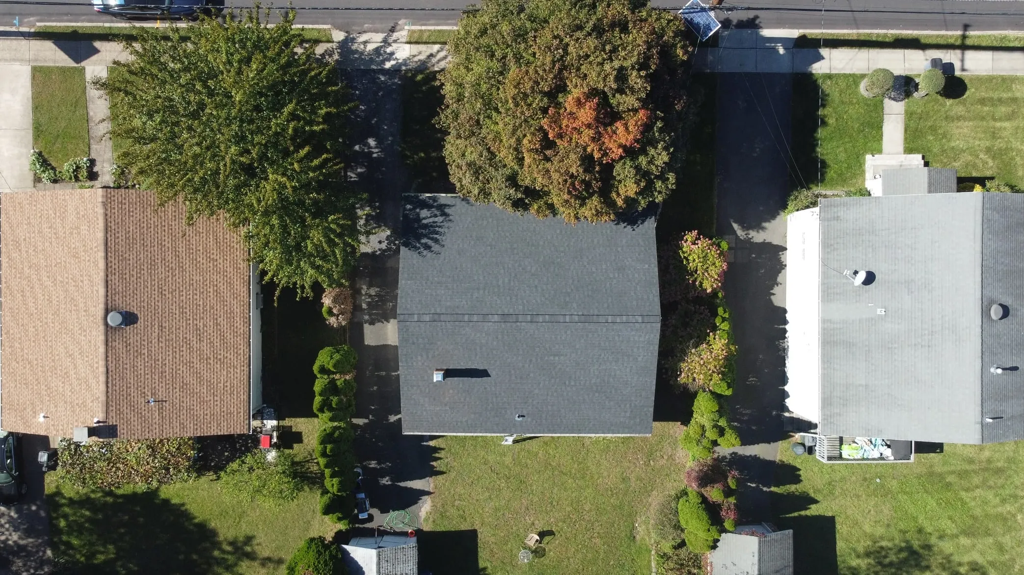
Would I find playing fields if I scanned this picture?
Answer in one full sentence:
No, there isn't any playing field down there.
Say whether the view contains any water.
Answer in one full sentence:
No, the picture contains no water.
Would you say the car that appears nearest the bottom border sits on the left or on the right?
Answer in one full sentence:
You can find the car that appears nearest the bottom border on the left side of the picture.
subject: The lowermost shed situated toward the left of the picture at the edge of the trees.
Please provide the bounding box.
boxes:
[341,531,421,575]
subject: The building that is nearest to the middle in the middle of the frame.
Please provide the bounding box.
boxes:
[396,192,662,444]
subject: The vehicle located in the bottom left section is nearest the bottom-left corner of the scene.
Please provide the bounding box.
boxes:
[0,432,37,506]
